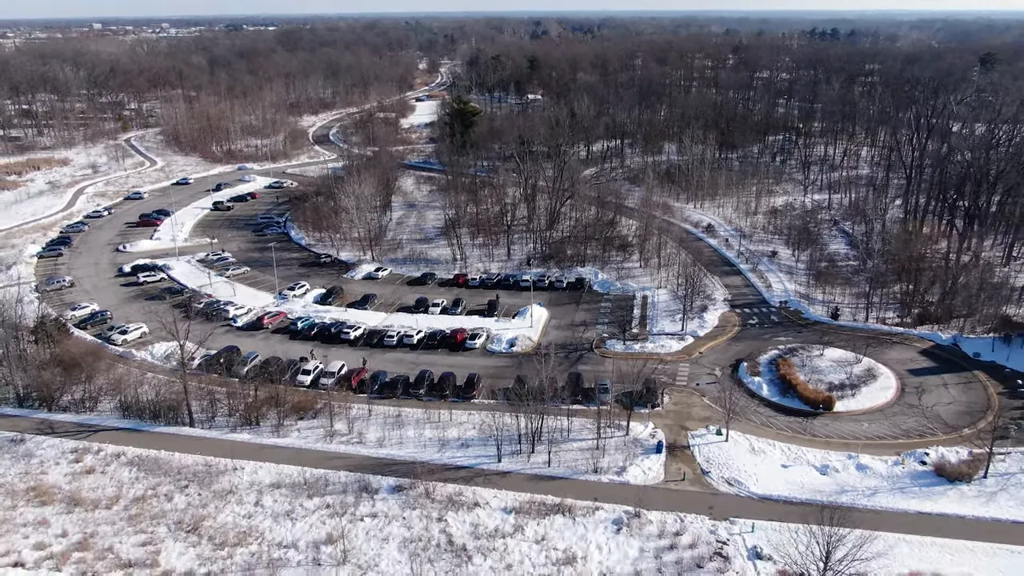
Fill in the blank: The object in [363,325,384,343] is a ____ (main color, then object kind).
black car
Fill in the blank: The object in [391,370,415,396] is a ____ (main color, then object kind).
black car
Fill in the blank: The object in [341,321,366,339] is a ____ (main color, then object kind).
white car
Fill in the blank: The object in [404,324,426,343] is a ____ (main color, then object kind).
white car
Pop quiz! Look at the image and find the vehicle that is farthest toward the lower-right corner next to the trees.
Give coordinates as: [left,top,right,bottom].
[638,372,660,405]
